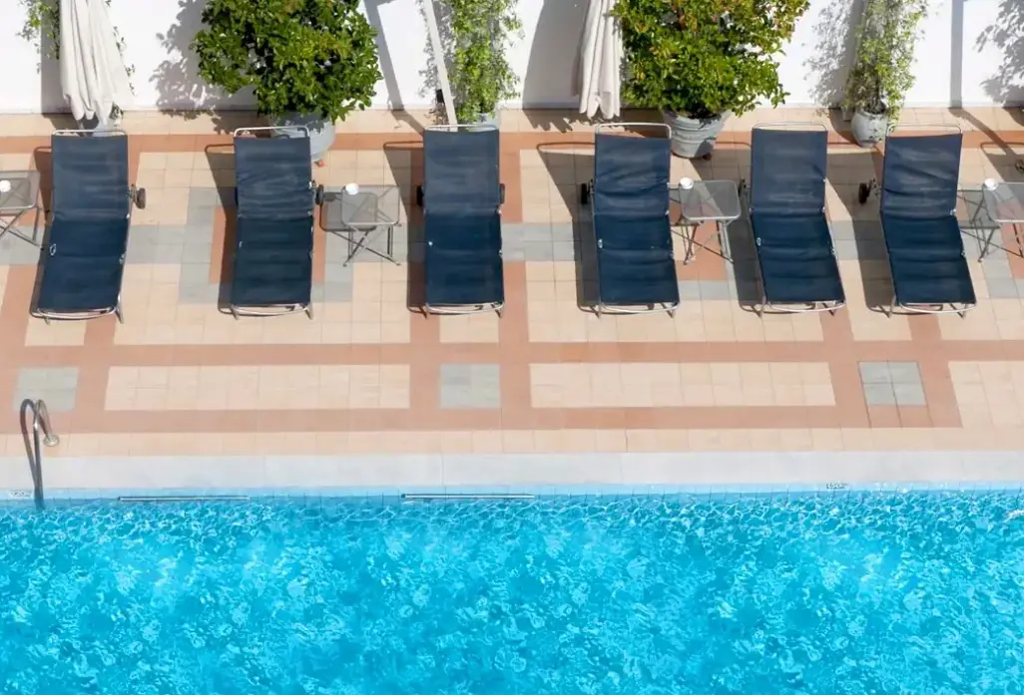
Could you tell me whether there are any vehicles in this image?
No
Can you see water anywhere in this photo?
Yes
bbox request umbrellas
[59,0,138,136]
[579,0,627,134]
